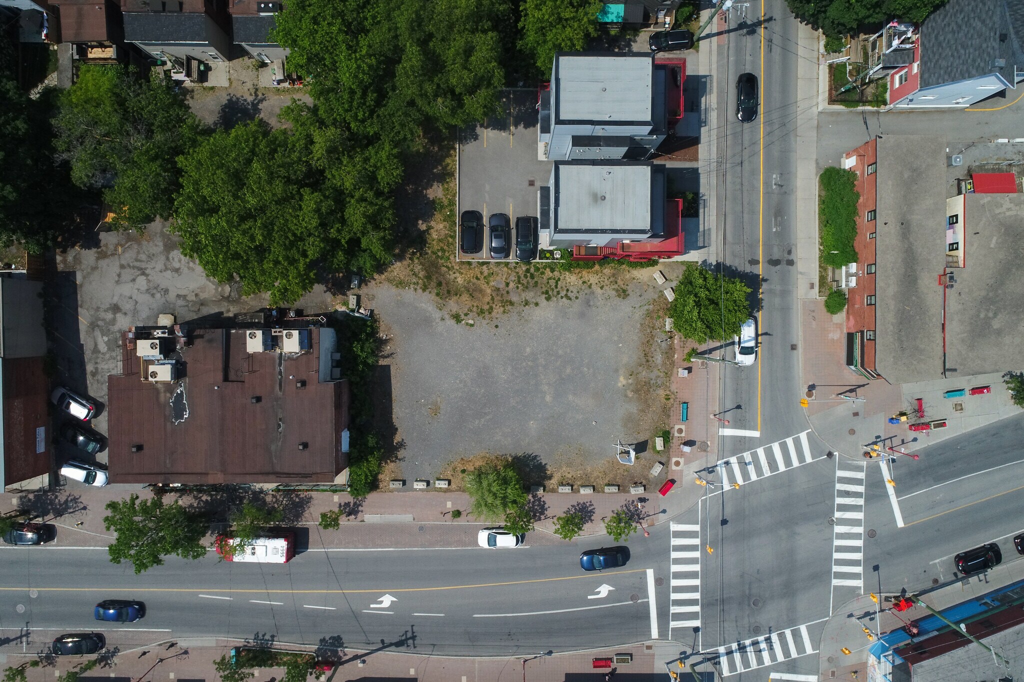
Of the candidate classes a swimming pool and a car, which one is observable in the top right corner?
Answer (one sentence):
The feature located in the top right corner is a car.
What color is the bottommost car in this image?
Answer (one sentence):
The bottommost car looks black in the image.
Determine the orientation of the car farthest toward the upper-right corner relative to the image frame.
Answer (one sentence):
In this picture, the car farthest toward the upper-right corner lies from top to bottom.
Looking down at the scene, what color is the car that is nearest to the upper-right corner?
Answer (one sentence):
The car that is nearest to the upper-right corner looks black in the image.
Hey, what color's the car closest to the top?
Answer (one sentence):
In this view, the car closest to the top is black.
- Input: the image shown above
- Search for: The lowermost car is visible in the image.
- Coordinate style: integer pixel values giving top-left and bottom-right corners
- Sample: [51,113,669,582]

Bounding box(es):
[52,631,106,658]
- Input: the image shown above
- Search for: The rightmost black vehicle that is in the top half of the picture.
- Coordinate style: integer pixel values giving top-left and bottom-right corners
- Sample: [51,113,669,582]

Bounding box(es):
[735,72,760,124]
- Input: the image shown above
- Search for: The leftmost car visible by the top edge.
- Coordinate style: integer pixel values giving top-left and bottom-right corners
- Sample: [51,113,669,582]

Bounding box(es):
[647,28,695,54]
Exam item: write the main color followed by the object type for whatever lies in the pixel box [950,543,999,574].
black car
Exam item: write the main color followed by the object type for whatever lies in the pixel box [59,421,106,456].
black car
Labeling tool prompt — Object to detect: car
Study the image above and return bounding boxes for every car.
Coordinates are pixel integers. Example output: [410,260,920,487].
[733,317,758,367]
[459,210,482,256]
[95,599,145,624]
[579,546,628,572]
[59,458,106,487]
[52,631,106,658]
[478,527,522,551]
[950,543,999,574]
[52,386,100,423]
[487,213,510,259]
[735,72,760,124]
[514,214,538,261]
[59,421,106,456]
[647,28,695,54]
[6,522,57,546]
